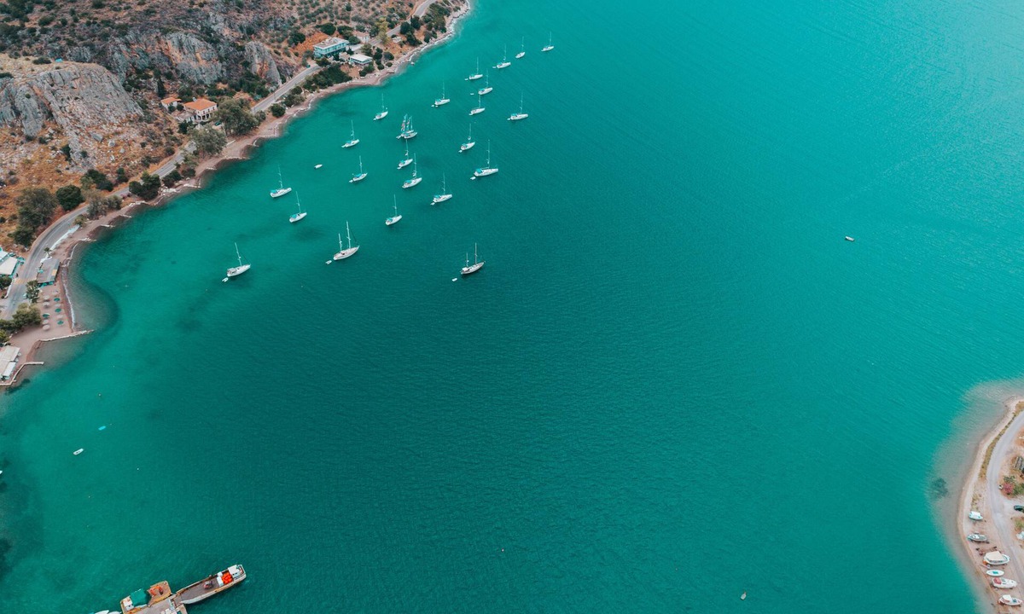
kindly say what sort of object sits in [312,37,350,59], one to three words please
building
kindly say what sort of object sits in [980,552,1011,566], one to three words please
boat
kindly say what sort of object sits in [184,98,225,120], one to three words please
house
